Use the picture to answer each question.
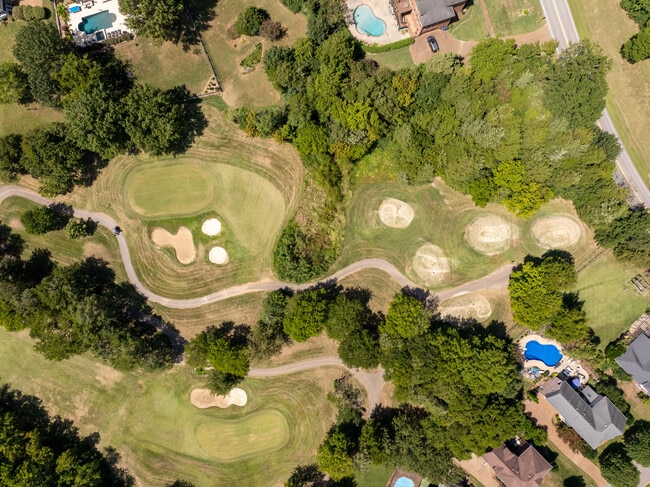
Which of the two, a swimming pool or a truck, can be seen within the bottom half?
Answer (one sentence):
The one visible within the bottom half is a swimming pool.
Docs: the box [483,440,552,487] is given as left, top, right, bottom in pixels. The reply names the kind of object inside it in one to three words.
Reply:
house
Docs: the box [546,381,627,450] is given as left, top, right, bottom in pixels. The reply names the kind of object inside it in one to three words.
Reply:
house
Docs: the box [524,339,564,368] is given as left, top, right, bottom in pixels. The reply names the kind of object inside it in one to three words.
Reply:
swimming pool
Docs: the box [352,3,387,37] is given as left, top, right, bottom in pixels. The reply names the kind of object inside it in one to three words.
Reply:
swimming pool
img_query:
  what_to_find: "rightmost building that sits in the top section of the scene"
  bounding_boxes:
[413,0,467,35]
